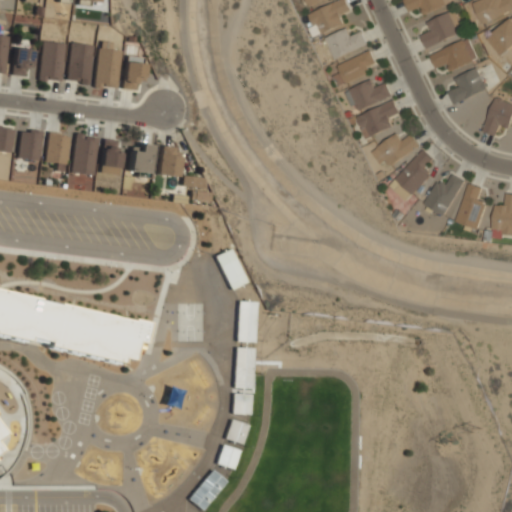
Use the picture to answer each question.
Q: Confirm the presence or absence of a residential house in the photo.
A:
Yes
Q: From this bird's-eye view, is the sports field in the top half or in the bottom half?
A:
bottom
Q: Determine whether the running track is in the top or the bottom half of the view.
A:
bottom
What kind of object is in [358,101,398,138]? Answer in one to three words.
house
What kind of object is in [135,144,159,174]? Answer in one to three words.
house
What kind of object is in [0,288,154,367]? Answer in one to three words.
building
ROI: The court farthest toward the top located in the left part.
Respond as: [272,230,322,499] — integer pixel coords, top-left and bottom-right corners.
[178,304,204,342]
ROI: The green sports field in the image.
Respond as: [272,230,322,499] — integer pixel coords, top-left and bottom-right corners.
[228,376,350,512]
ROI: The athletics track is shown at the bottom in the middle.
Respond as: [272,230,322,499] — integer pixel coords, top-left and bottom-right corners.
[219,368,359,512]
